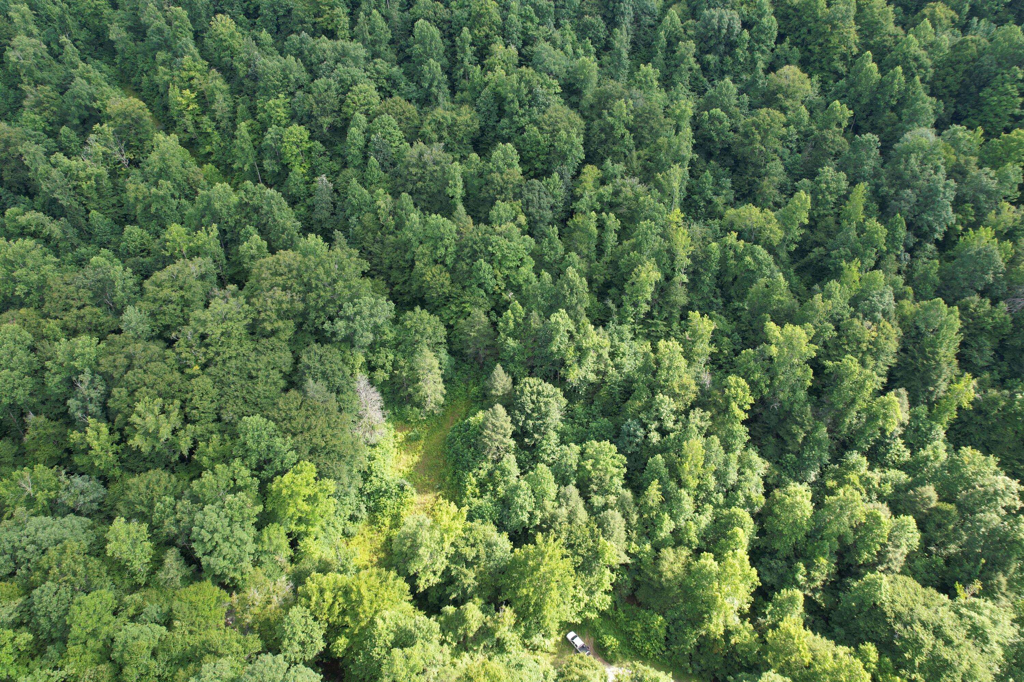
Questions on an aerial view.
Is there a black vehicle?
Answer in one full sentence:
No, no black vehicle is visible in the scene.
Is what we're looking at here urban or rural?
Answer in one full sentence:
It looks rural.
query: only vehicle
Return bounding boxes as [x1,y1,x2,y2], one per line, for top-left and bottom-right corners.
[565,630,591,659]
